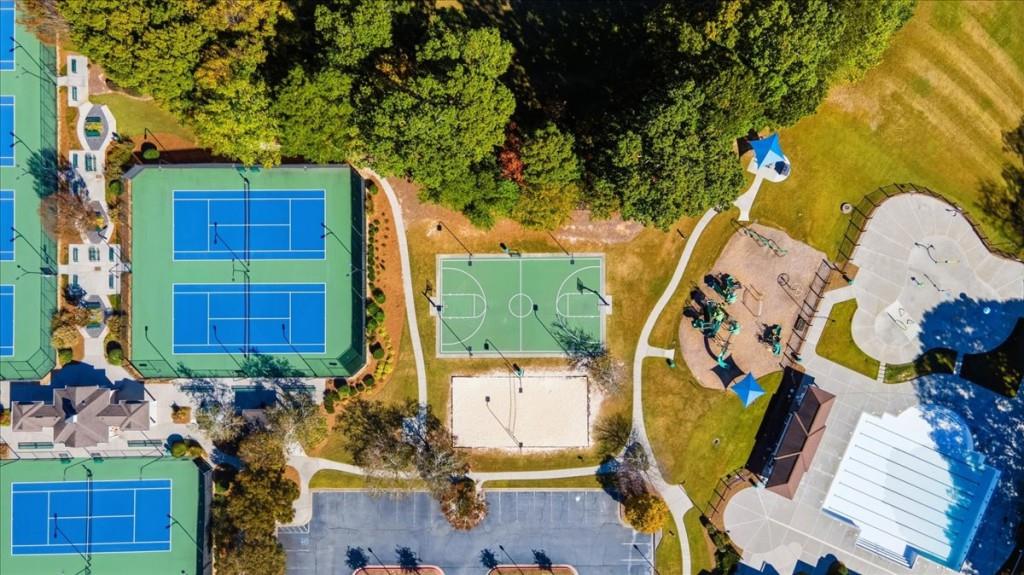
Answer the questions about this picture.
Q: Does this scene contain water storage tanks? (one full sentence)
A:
No, the picture doesn't show any water storage tank.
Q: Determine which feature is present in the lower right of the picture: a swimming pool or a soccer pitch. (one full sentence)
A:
You can see a swimming pool in the lower right of the picture.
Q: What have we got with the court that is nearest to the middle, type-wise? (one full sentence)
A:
I'd identify the court that is nearest to the middle as a basketball court.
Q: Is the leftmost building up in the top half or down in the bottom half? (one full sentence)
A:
You can find the leftmost building in the bottom half.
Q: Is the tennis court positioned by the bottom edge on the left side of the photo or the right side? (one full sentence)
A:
It is on the left.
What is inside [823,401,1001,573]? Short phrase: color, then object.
white swimming pool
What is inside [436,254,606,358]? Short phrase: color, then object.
green basketball court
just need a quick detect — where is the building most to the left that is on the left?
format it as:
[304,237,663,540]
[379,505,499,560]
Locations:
[11,386,158,448]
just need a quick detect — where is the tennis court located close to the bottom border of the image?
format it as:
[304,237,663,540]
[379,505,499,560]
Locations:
[0,460,204,575]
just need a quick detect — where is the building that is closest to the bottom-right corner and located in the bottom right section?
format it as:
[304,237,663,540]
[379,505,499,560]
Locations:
[761,386,836,499]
